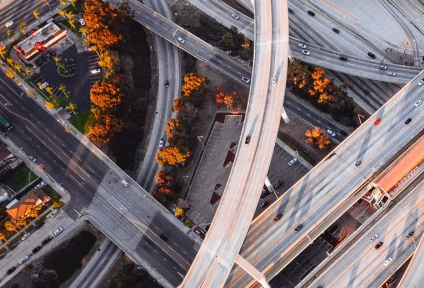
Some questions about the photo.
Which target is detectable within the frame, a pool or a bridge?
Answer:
bridge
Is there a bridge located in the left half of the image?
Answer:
Yes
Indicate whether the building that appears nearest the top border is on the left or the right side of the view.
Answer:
left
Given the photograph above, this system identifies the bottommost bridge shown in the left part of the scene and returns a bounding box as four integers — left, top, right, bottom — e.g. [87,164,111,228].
[90,183,180,260]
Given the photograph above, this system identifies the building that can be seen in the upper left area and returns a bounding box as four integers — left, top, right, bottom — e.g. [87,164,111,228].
[14,26,68,64]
